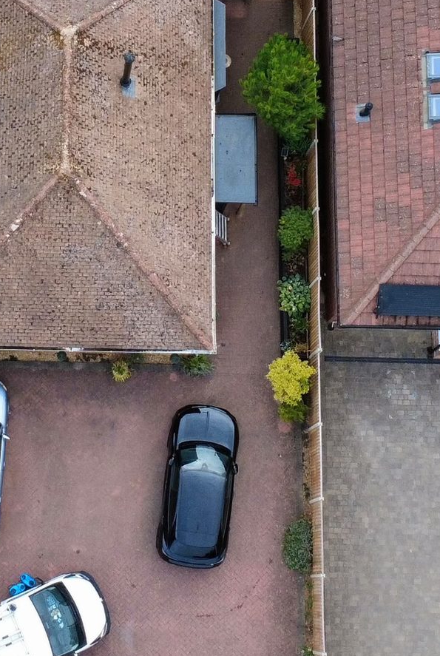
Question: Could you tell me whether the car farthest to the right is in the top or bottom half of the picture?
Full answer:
The car farthest to the right sits in the bottom half of the picture.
